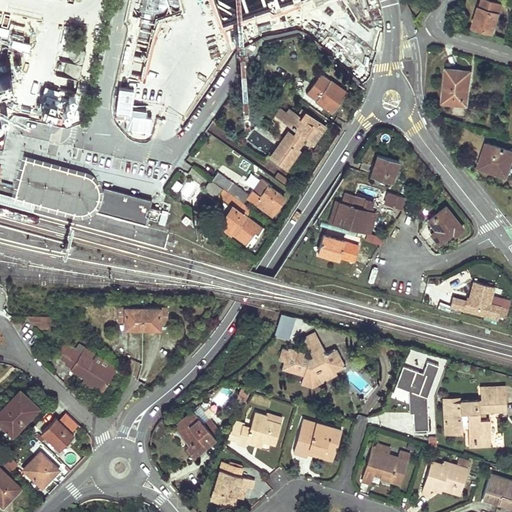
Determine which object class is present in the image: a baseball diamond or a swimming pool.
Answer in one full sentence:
Of the two, only a swimming pool appears.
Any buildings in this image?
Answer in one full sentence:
Yes, the photo shows a building.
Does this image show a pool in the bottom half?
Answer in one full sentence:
Yes, in the bottom half there is a pool.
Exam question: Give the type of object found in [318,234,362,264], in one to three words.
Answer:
house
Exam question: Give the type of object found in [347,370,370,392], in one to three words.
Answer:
swimming pool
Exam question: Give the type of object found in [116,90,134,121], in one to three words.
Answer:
building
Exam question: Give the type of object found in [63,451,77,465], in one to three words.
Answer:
swimming pool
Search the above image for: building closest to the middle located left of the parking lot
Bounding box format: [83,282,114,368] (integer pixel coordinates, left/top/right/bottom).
[223,208,263,247]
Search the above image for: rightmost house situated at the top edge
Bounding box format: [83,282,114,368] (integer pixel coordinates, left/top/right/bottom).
[472,0,504,36]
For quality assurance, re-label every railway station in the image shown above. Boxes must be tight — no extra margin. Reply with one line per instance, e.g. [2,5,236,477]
[12,153,102,221]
